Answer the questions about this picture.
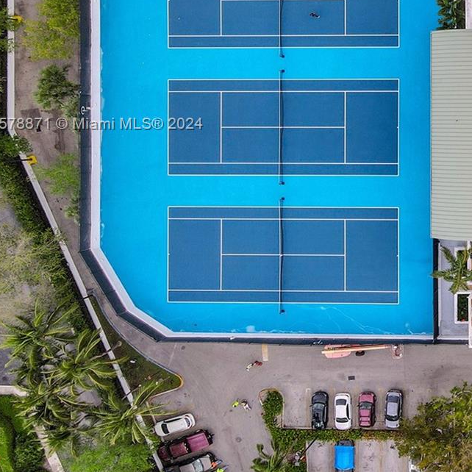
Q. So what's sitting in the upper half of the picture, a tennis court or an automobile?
tennis court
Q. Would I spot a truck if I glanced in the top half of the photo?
No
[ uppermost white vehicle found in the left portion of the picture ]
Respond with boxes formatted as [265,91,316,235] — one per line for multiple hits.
[155,411,198,438]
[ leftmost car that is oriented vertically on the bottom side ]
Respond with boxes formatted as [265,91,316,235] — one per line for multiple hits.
[309,386,331,432]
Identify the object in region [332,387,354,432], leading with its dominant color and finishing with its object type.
white car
